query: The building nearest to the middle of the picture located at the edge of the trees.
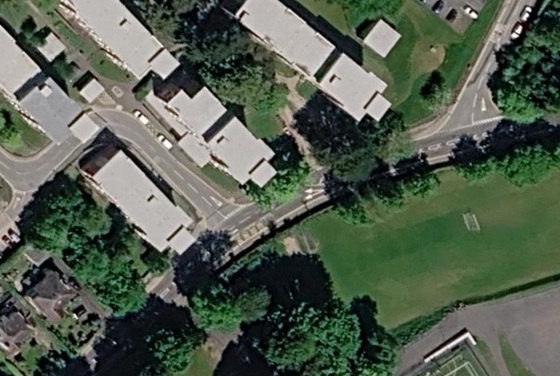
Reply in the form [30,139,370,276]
[208,117,277,188]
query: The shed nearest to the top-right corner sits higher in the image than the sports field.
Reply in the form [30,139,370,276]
[364,19,401,58]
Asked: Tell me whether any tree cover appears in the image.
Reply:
Yes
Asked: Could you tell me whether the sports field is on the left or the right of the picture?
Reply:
right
